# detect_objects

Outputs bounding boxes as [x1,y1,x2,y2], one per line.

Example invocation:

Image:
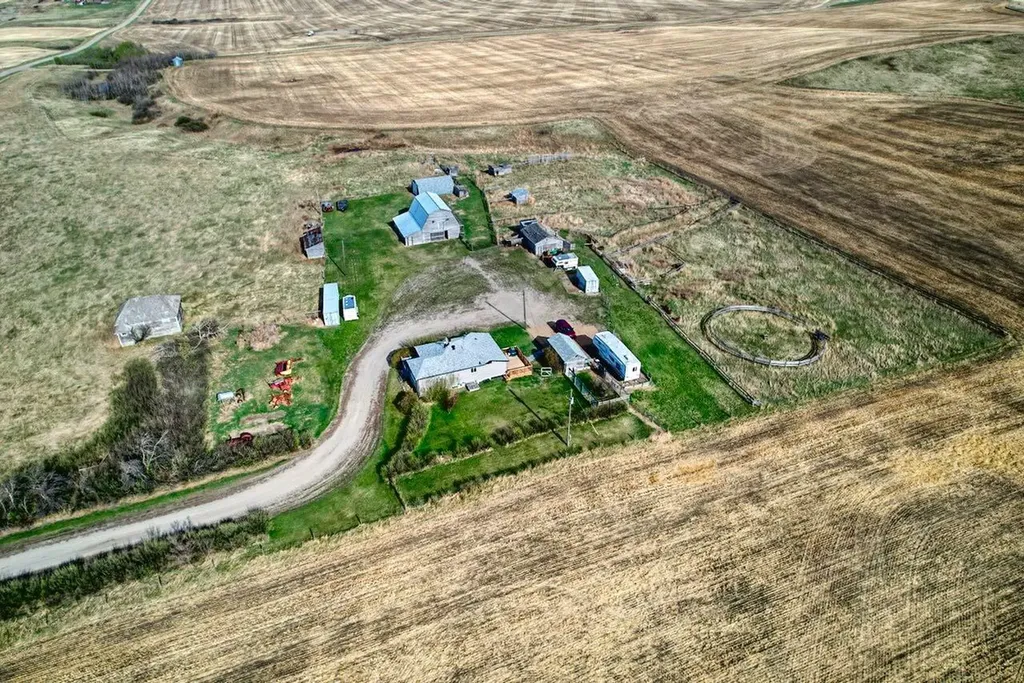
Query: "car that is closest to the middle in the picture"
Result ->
[548,319,575,335]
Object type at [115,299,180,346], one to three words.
house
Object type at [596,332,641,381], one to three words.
trailer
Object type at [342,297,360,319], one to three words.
vehicle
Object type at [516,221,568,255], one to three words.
building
